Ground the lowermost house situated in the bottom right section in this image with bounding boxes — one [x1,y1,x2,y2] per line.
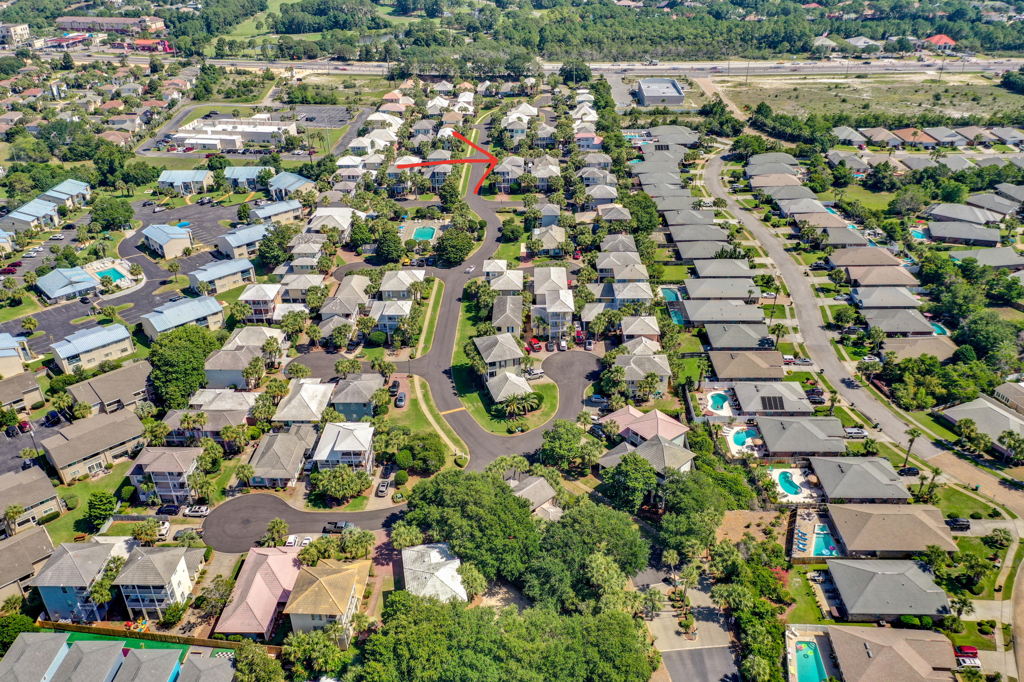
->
[824,625,956,682]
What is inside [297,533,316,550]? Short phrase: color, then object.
white car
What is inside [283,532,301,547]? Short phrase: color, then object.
white car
